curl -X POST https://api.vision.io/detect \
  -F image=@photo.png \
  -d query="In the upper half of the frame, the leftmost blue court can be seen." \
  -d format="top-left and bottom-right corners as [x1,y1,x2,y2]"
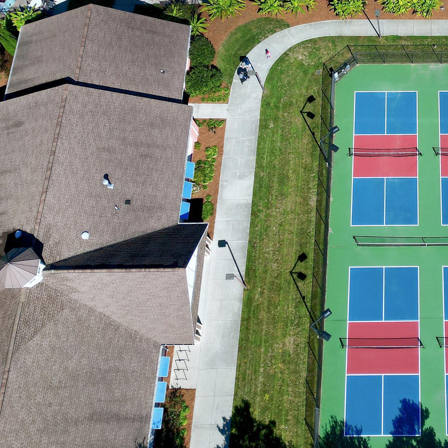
[351,91,418,226]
